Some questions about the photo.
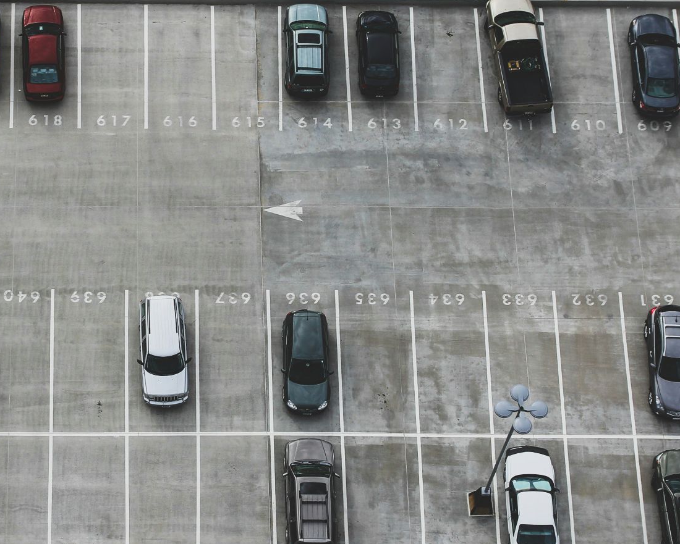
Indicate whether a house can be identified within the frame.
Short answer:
No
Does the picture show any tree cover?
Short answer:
No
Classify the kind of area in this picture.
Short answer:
parking lot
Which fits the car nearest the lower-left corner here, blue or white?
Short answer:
white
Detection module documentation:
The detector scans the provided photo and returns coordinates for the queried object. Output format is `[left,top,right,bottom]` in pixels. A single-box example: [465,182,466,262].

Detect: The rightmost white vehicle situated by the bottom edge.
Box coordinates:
[503,447,561,544]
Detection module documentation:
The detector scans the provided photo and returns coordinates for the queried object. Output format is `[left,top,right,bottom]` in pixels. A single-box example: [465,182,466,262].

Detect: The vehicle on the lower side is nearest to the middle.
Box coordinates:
[278,307,336,417]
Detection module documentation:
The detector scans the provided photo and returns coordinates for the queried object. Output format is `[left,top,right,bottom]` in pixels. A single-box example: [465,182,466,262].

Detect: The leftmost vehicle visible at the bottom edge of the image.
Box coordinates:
[281,441,343,544]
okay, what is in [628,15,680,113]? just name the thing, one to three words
car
